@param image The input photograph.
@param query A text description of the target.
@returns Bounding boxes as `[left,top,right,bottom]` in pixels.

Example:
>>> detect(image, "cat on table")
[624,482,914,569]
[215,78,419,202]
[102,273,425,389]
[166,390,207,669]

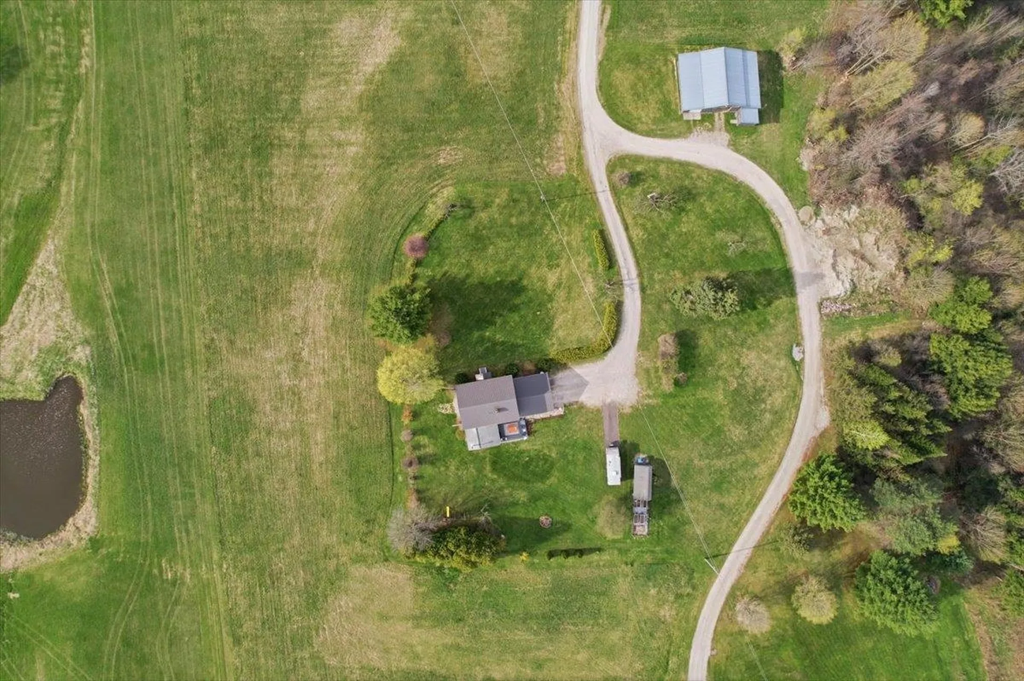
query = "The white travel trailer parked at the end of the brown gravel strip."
[605,439,621,485]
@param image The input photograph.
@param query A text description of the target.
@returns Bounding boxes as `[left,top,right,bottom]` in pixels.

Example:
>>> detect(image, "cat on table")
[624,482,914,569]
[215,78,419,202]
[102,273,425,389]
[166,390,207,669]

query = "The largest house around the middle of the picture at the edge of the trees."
[457,373,551,450]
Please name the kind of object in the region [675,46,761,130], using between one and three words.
barn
